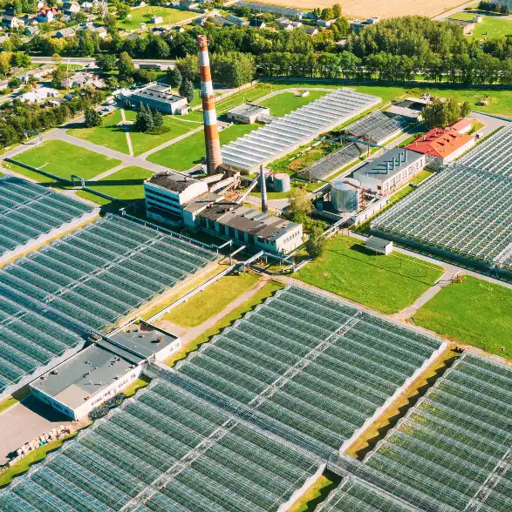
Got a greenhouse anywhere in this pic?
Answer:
Yes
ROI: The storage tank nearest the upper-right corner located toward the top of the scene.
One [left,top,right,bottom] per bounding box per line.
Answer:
[329,177,364,214]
